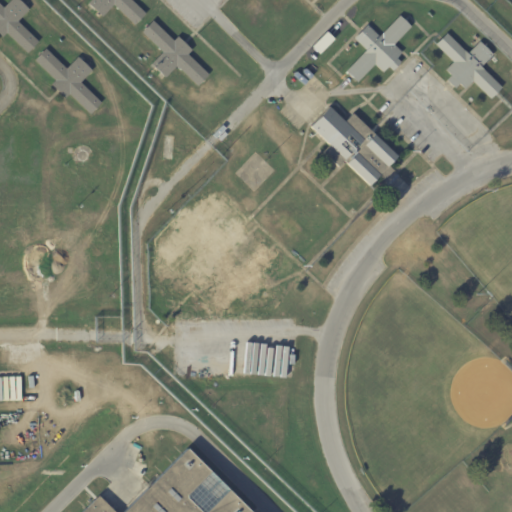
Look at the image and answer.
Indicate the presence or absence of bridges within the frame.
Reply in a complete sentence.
No, there is no bridge in the image.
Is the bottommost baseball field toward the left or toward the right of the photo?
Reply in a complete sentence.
The bottommost baseball field sits on the right side.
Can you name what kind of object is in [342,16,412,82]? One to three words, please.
building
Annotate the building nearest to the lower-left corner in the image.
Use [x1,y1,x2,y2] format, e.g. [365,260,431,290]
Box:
[132,447,258,512]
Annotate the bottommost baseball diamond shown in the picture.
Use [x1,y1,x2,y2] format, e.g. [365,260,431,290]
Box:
[346,268,512,512]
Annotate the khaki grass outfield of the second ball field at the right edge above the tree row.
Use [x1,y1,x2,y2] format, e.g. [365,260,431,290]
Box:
[438,185,512,316]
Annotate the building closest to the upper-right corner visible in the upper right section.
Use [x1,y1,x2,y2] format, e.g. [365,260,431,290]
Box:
[436,32,502,99]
